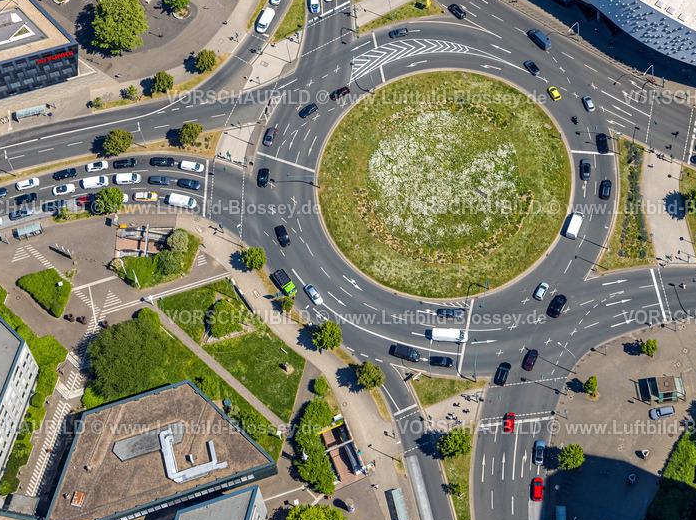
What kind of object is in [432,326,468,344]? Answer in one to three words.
vehicle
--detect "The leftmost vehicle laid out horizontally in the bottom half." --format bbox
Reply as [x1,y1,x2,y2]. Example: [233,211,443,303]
[391,344,421,361]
